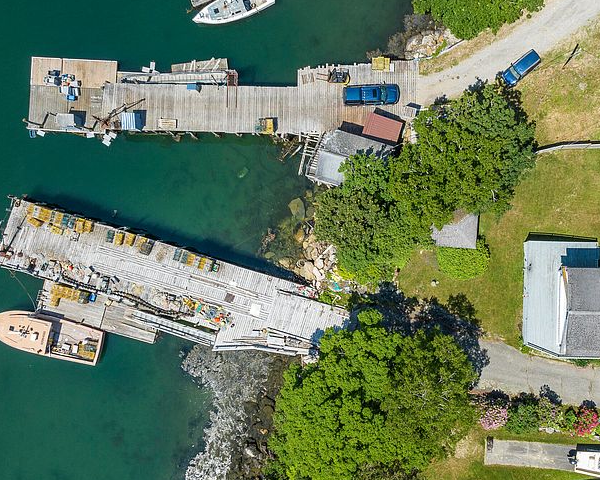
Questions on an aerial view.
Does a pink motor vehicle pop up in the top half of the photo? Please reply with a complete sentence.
No, the scene shows no pink motor vehicle in the top half of the photo.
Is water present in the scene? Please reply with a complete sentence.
Yes, there's water in this view.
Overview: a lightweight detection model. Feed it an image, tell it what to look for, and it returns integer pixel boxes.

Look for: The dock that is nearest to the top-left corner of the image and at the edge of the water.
[29,56,63,87]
